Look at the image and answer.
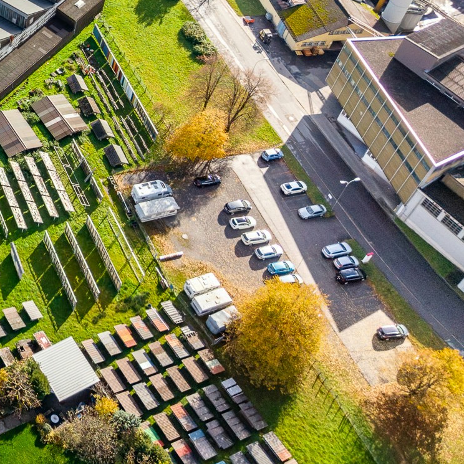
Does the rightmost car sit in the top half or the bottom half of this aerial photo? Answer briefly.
bottom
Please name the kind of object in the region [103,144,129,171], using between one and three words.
shed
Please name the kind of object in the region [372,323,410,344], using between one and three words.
car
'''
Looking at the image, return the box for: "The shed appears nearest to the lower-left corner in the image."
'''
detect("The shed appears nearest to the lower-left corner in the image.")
[27,337,98,411]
